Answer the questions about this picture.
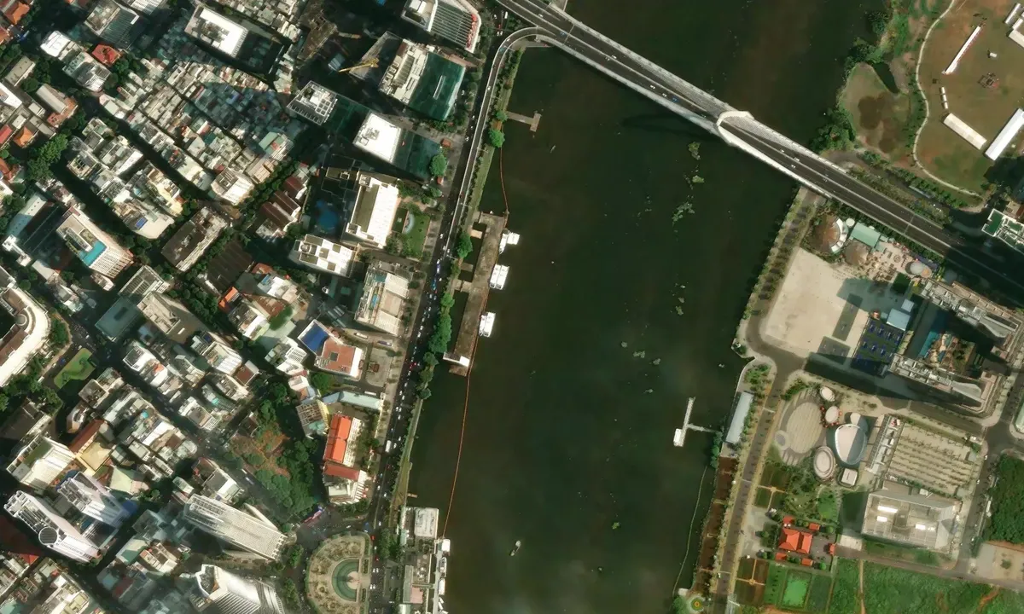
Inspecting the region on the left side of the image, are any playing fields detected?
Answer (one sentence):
No, I can find no playing field on the left side of the image.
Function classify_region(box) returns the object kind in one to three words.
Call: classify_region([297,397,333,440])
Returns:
house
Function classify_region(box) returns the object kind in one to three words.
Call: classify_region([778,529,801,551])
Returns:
building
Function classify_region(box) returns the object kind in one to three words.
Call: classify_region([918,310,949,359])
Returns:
swimming pool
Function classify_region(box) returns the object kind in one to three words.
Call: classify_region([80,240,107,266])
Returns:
swimming pool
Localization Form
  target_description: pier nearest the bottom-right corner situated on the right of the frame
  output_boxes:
[673,397,721,446]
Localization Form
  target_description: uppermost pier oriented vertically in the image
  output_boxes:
[449,212,504,377]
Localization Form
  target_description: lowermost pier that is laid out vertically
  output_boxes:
[415,540,451,614]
